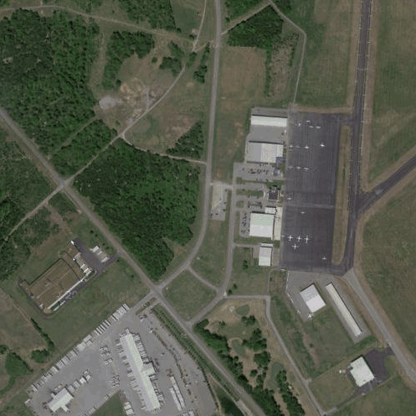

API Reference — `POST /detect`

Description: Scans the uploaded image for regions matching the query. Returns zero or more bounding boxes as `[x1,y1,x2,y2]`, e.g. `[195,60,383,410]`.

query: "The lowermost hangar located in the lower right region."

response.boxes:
[351,356,374,387]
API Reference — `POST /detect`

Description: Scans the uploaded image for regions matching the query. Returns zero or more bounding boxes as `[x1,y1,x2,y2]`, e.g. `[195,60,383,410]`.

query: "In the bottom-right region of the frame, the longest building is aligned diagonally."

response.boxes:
[326,282,363,337]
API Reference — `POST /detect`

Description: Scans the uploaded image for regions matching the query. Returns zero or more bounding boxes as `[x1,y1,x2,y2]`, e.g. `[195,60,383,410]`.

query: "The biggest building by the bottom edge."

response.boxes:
[119,332,160,412]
